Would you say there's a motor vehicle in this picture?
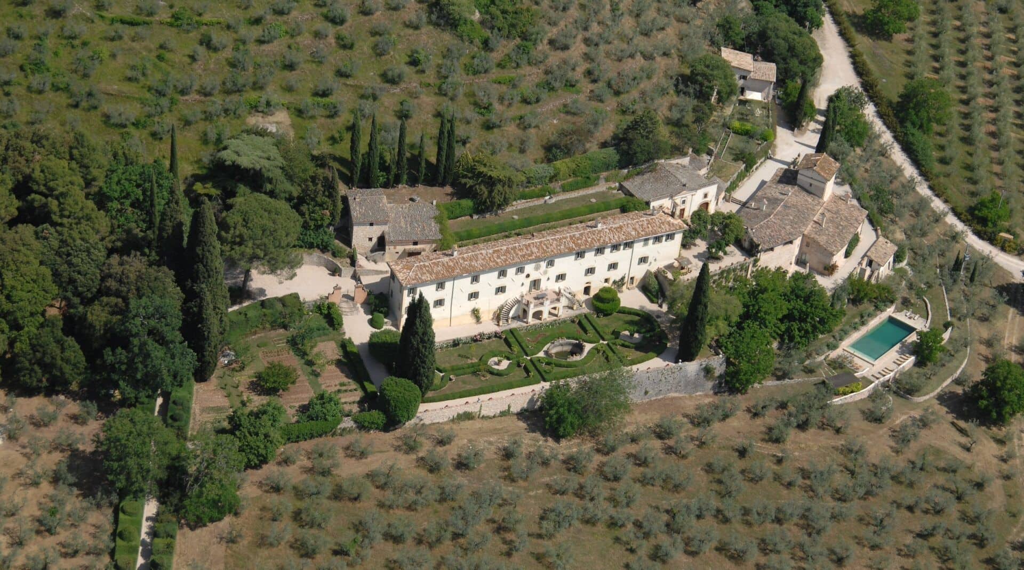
No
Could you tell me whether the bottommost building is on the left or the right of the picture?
right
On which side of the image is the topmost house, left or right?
right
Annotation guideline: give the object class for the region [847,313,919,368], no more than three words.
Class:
swimming pool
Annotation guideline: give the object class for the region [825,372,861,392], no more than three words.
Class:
building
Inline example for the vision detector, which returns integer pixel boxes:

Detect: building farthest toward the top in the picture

[721,47,776,100]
